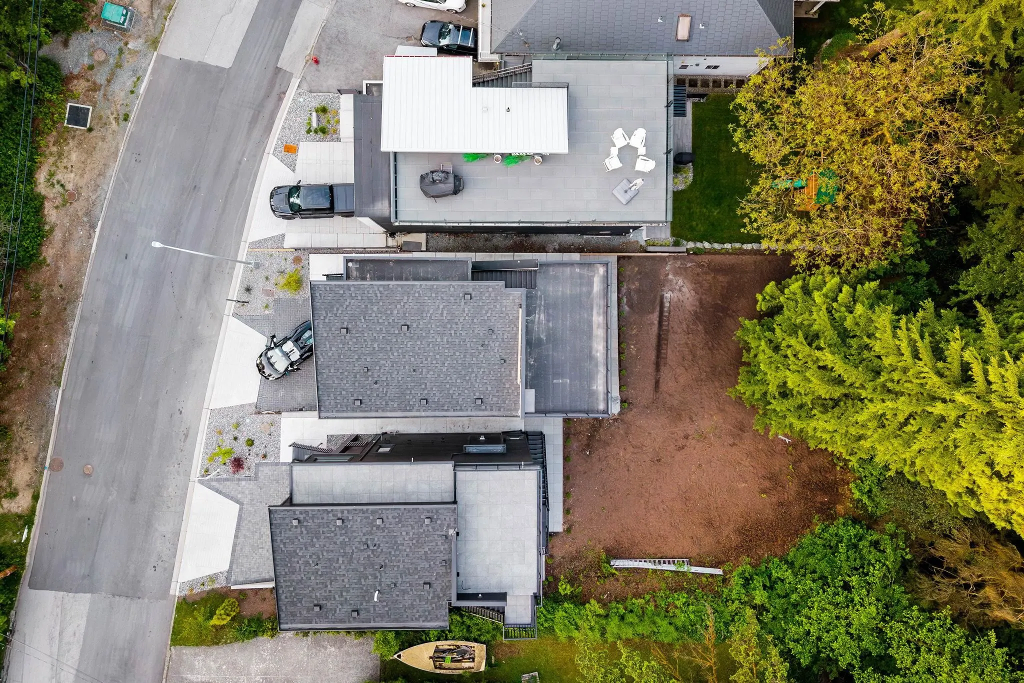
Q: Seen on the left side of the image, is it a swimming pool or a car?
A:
car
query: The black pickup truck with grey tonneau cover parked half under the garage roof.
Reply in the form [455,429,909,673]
[269,179,367,223]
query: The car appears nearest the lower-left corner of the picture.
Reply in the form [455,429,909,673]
[251,311,313,379]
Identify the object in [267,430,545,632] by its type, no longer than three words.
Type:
house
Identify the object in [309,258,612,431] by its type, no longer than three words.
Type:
house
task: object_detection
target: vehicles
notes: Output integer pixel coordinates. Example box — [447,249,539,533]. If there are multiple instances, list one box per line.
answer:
[393,0,468,17]
[251,311,313,379]
[269,179,367,223]
[420,17,485,67]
